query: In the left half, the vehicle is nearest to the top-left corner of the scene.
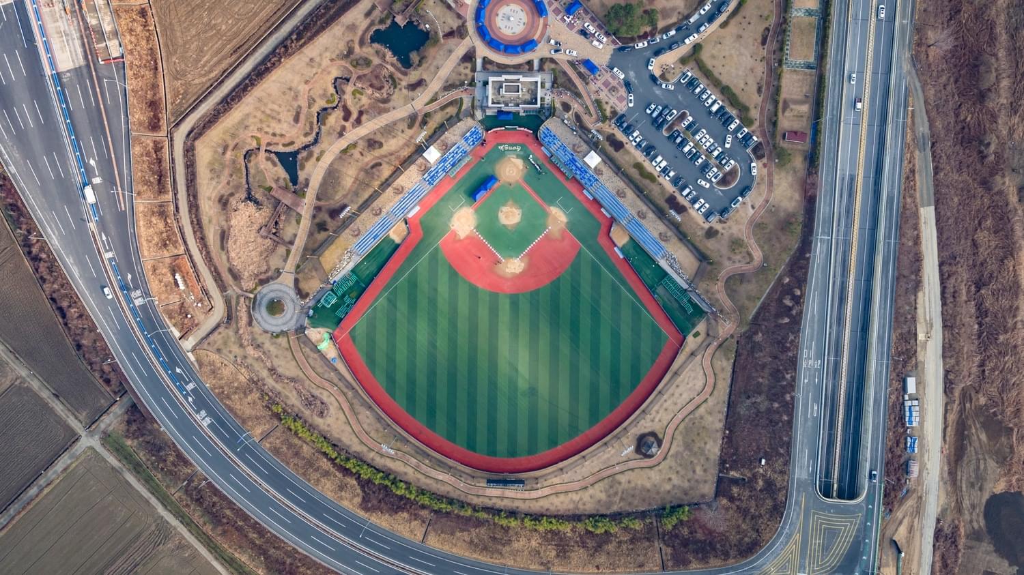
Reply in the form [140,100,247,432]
[81,185,94,203]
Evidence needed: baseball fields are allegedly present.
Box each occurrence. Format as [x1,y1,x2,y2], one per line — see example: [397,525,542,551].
[333,128,684,473]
